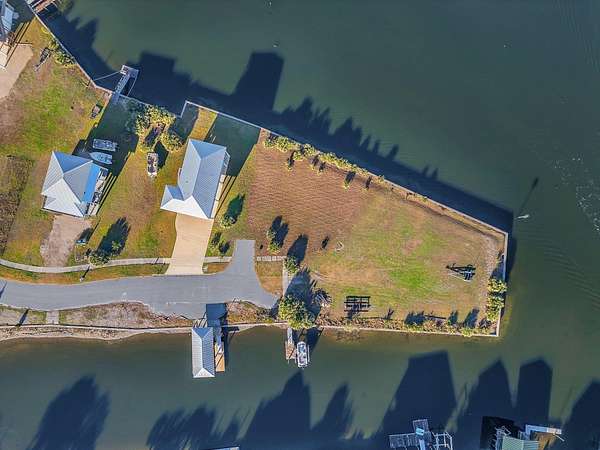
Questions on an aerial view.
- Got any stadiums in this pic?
No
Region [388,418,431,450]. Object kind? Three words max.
pier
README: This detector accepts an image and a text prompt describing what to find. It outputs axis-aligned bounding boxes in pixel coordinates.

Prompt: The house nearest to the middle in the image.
[159,139,236,219]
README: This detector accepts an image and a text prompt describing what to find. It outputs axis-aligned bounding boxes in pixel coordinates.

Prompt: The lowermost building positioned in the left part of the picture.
[192,327,216,378]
